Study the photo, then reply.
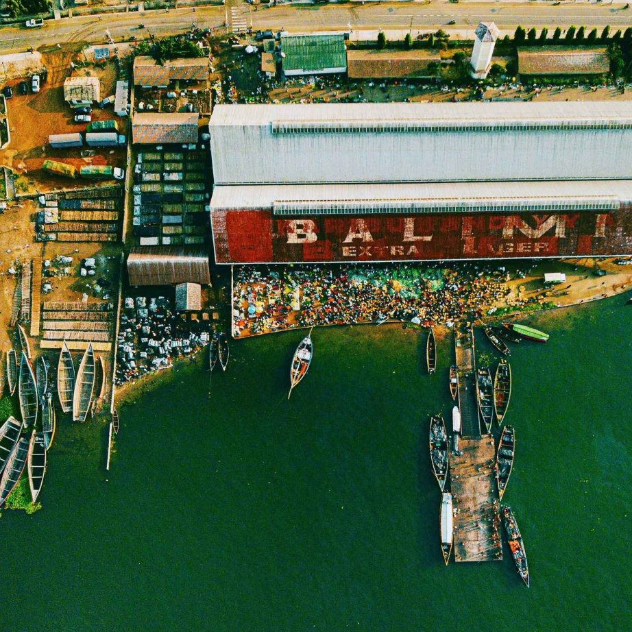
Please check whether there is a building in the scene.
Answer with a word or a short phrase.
Yes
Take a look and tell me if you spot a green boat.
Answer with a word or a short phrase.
Yes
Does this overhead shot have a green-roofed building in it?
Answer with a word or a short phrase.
Yes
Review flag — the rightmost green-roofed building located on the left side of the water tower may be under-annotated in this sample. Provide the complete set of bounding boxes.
[283,30,348,79]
